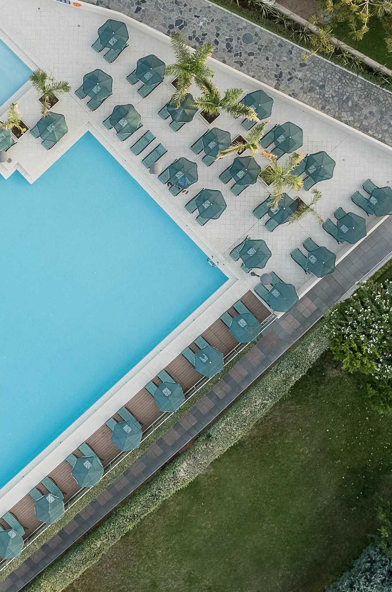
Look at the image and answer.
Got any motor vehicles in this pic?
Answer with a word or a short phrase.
No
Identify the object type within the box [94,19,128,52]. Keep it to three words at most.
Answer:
umbrella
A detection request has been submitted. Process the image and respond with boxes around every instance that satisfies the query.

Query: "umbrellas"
[245,87,276,120]
[272,124,303,155]
[364,182,392,213]
[163,156,196,189]
[75,451,107,484]
[268,283,300,316]
[79,68,112,99]
[306,151,338,184]
[36,492,68,523]
[306,245,337,276]
[111,416,142,447]
[0,527,24,559]
[197,347,228,378]
[132,55,164,87]
[111,104,142,136]
[37,112,70,146]
[94,19,128,52]
[153,379,186,411]
[335,210,368,242]
[190,188,224,221]
[229,312,261,345]
[200,124,232,156]
[238,237,272,269]
[230,154,262,185]
[166,93,198,126]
